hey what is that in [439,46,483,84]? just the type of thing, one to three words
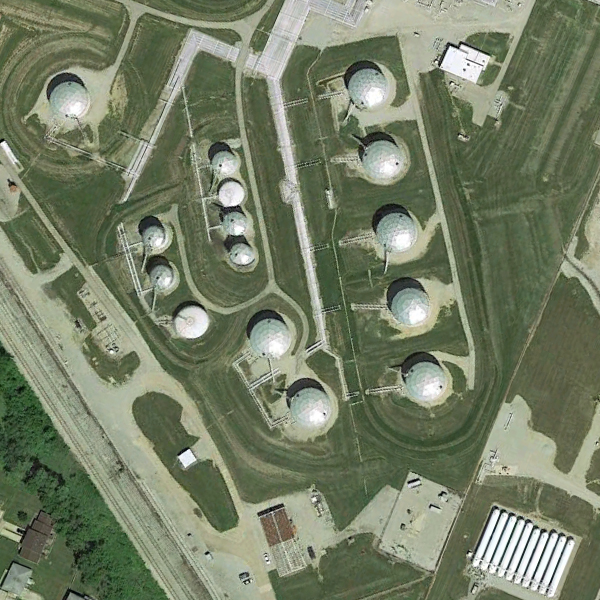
building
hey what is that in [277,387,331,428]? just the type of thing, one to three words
storage tank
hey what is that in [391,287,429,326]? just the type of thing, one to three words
storage tank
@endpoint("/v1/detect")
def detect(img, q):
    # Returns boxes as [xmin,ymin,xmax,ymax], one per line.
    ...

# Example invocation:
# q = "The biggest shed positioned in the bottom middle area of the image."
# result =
[259,507,295,546]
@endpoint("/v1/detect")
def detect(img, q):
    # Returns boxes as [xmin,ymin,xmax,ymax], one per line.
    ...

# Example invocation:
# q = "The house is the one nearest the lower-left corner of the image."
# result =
[2,561,31,594]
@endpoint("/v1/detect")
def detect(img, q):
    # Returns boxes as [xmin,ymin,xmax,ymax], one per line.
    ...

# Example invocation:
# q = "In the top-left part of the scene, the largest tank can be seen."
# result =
[50,80,90,139]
